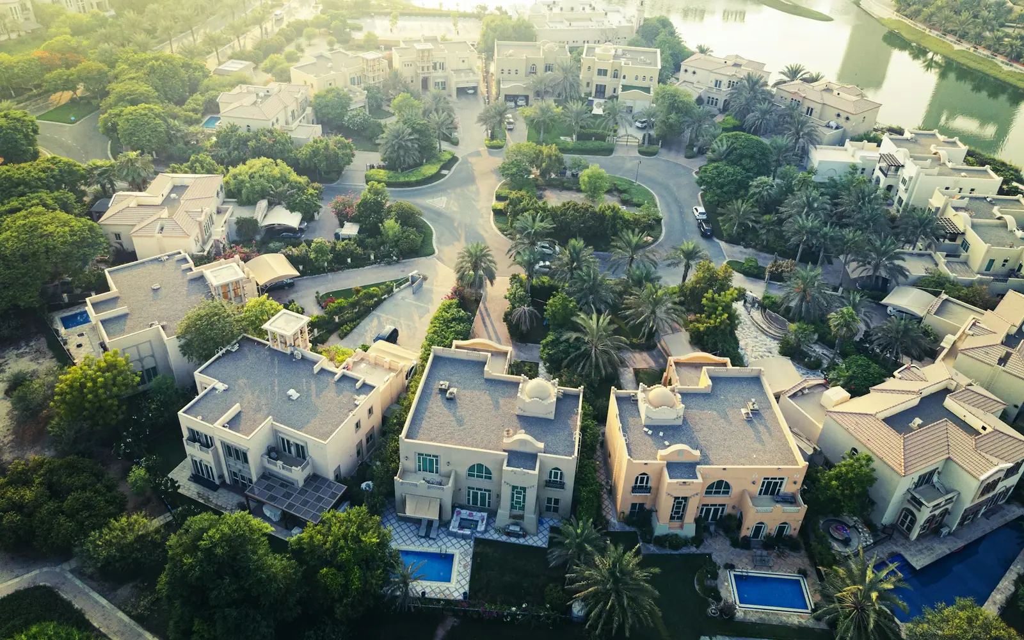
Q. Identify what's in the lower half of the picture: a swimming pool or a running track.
swimming pool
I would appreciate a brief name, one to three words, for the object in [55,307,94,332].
swimming pool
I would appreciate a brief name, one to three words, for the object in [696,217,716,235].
car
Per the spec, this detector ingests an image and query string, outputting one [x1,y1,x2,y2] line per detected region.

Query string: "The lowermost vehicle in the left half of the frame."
[370,320,402,343]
